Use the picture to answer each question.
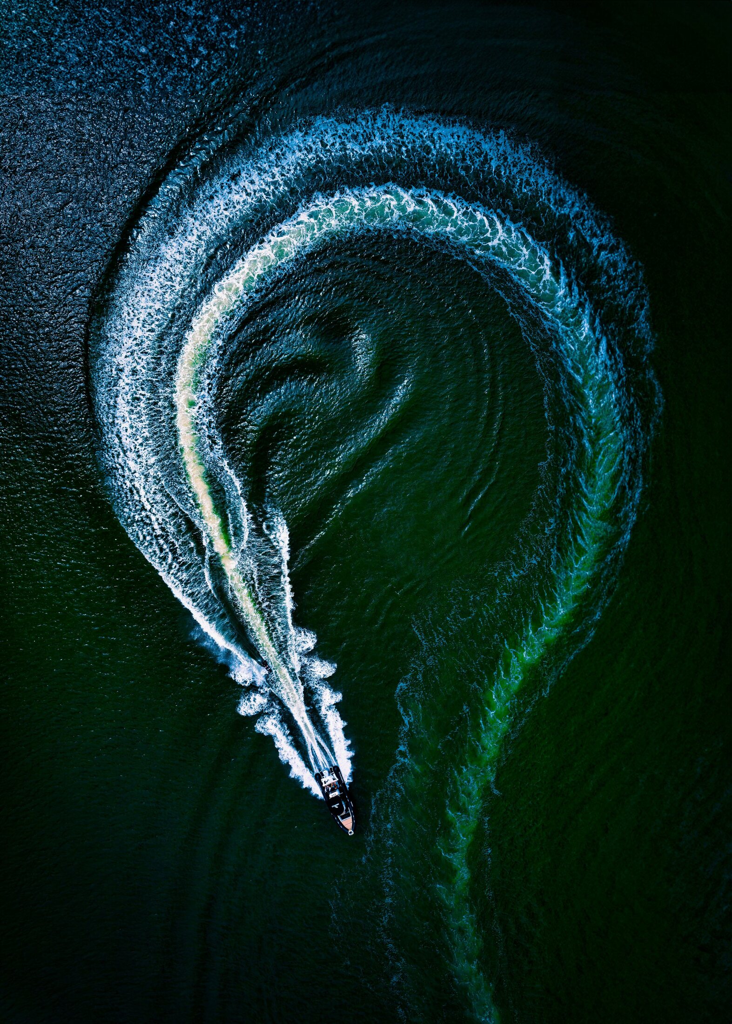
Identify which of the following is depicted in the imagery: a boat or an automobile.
boat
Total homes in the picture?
0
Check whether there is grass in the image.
No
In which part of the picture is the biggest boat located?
bottom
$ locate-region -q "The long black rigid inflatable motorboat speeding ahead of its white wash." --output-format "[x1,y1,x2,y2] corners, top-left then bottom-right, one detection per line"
[315,766,355,837]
